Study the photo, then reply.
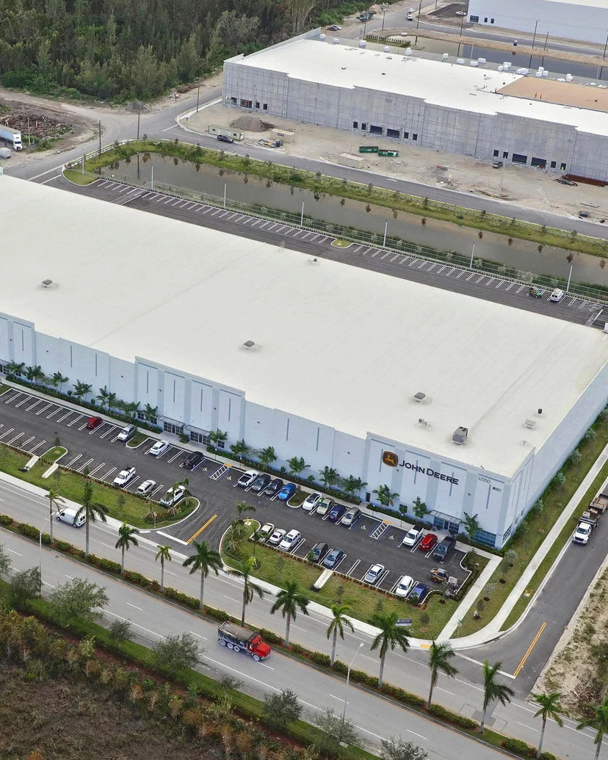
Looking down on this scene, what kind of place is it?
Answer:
industrial area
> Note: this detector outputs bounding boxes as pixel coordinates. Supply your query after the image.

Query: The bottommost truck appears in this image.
[216,612,273,656]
